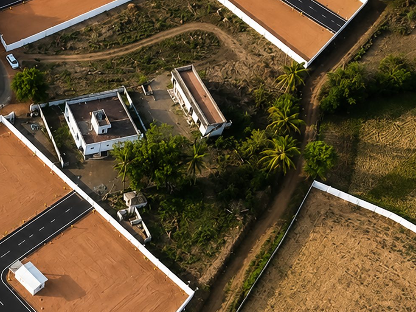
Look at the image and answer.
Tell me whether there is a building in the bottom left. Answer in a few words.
Yes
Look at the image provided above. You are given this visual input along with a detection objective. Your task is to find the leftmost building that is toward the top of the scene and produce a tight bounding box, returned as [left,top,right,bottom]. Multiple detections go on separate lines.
[64,91,139,157]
